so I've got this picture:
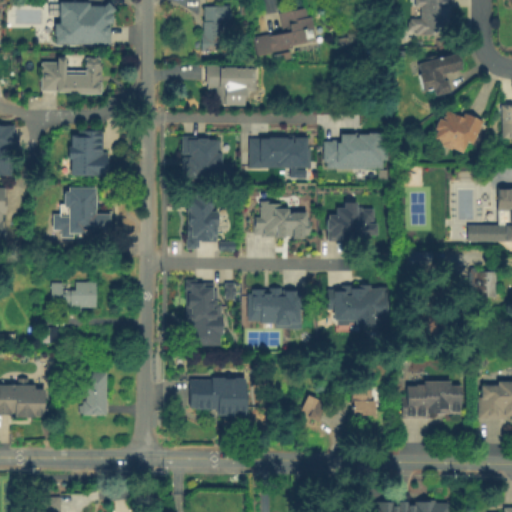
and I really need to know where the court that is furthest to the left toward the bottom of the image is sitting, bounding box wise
[244,328,282,350]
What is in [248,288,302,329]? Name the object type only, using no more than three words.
house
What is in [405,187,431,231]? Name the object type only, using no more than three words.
sports court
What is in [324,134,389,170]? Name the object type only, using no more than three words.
house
